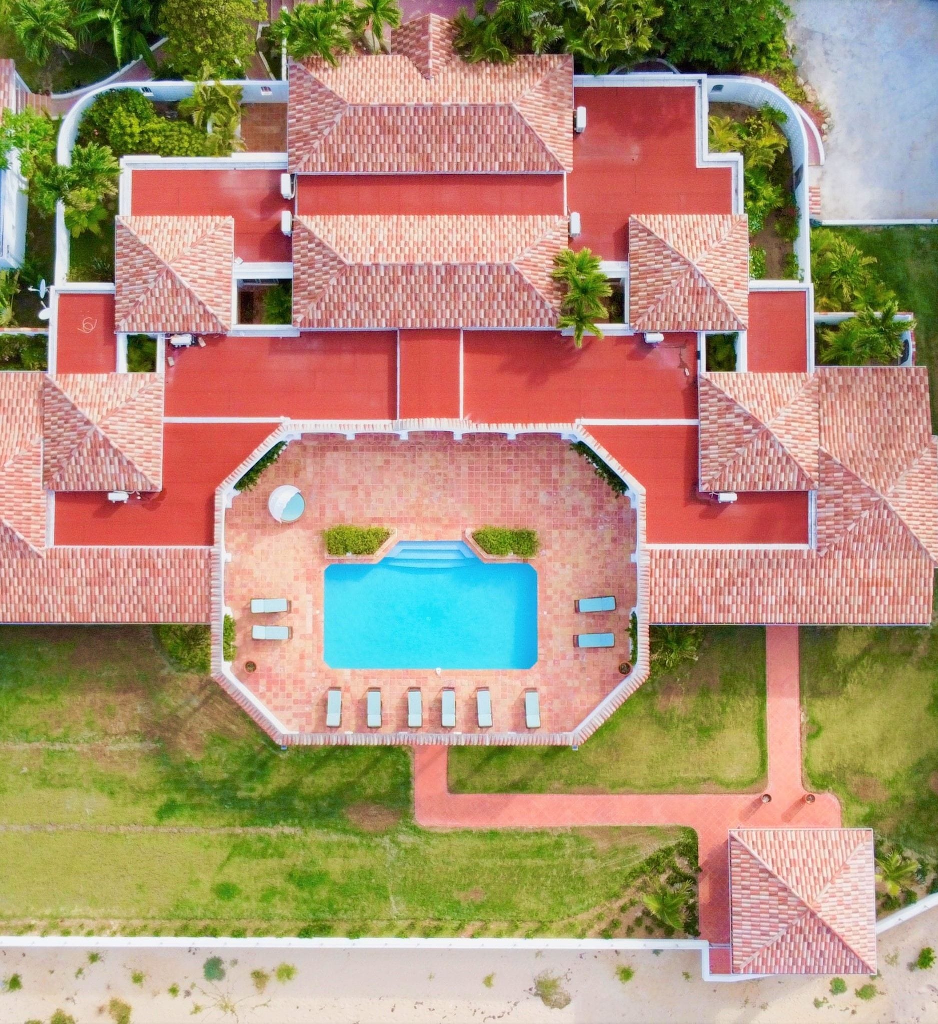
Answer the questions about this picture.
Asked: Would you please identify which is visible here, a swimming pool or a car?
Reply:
swimming pool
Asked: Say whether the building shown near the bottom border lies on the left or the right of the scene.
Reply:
right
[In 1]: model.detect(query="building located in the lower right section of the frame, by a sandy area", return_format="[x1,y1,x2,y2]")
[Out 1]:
[727,827,879,976]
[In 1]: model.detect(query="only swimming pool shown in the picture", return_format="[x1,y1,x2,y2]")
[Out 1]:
[323,540,538,670]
